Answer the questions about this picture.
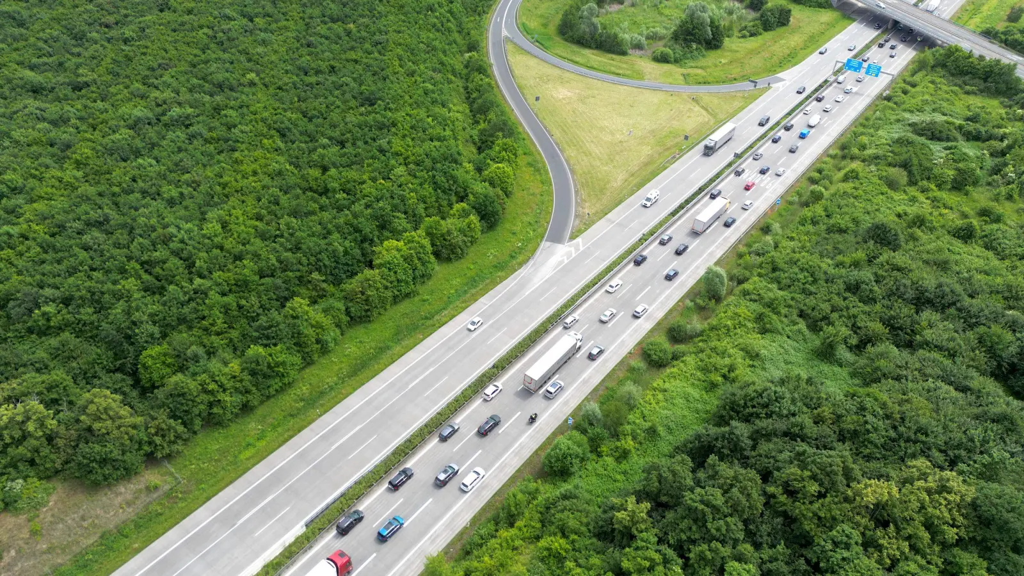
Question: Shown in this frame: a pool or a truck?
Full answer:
The one in the frame is a truck.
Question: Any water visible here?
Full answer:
No, the picture contains no water.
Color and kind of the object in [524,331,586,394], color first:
white truck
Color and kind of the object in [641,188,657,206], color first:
white vehicle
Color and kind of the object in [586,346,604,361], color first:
gray car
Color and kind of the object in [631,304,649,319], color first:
white car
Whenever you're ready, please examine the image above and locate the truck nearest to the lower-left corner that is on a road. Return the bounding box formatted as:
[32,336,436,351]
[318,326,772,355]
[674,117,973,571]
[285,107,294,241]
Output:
[302,548,352,576]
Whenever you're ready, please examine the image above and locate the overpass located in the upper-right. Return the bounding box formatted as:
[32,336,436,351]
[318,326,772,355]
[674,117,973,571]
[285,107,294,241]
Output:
[842,0,988,52]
